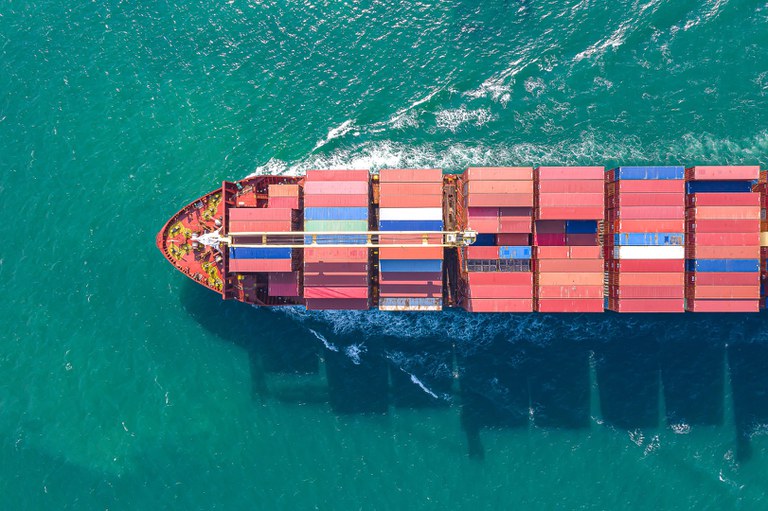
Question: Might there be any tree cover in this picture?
No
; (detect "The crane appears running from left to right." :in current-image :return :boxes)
[226,224,480,249]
